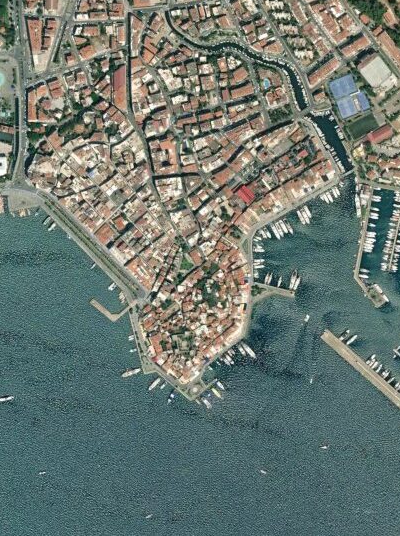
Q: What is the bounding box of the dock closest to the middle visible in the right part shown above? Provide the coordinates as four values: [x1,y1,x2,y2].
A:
[252,282,295,306]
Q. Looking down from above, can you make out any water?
Yes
